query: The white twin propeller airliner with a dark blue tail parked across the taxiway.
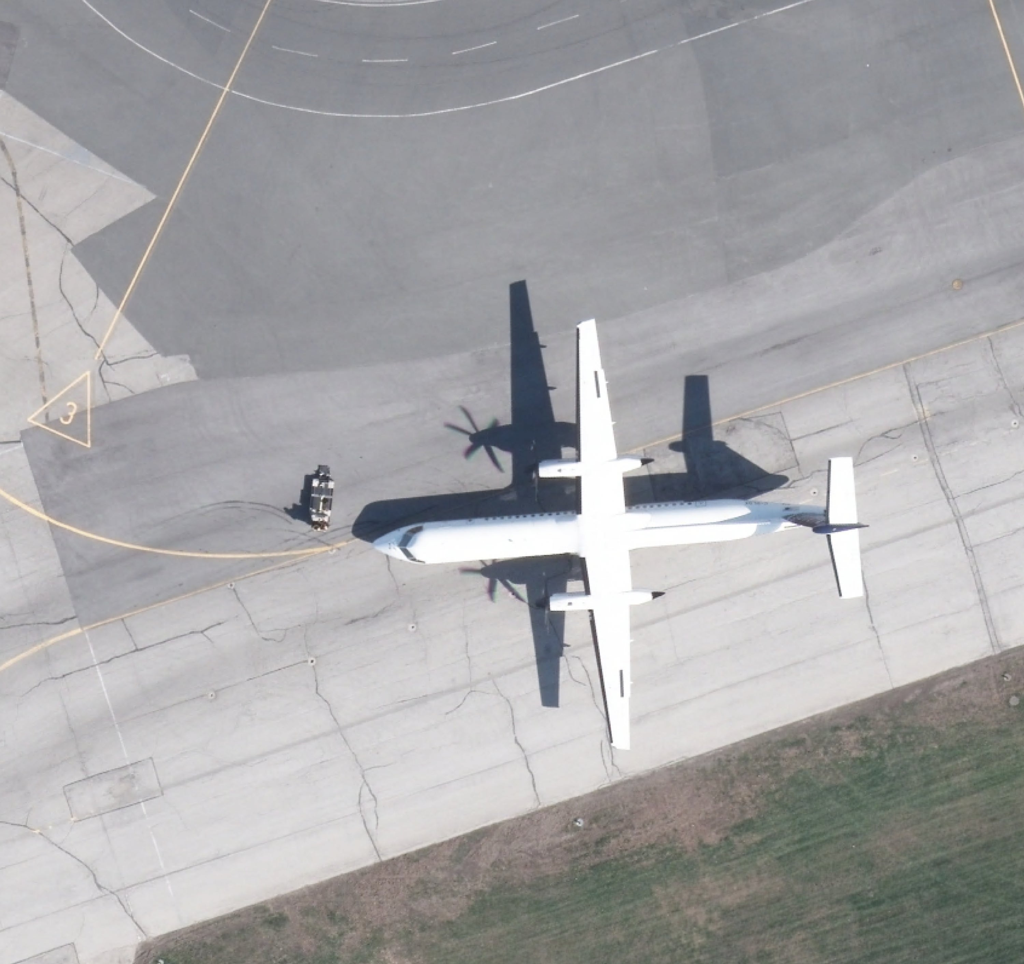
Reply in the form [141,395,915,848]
[373,320,869,749]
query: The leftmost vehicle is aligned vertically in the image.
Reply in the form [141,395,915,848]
[310,465,334,532]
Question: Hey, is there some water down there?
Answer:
No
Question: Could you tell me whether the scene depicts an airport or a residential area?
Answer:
airport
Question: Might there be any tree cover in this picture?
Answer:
No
